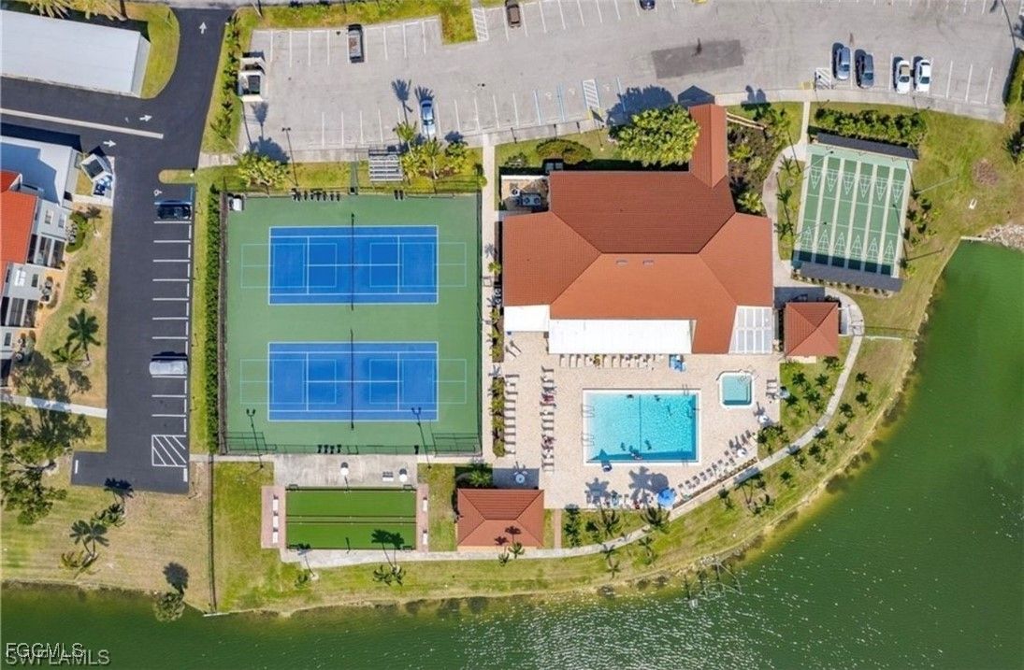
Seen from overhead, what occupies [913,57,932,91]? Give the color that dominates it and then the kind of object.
white car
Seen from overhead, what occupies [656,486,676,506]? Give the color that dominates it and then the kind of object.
blue umbrella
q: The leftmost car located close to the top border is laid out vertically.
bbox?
[347,26,364,60]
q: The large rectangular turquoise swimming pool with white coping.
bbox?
[581,386,704,469]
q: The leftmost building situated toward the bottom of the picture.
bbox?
[457,488,545,552]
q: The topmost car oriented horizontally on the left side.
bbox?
[156,203,190,218]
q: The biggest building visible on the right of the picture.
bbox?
[502,104,774,355]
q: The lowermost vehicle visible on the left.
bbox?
[146,357,190,375]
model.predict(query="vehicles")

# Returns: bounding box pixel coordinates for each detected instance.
[146,357,190,375]
[834,44,853,79]
[642,0,656,12]
[893,58,912,92]
[347,26,364,60]
[156,203,190,218]
[913,57,932,91]
[855,52,875,87]
[420,100,437,137]
[506,0,521,28]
